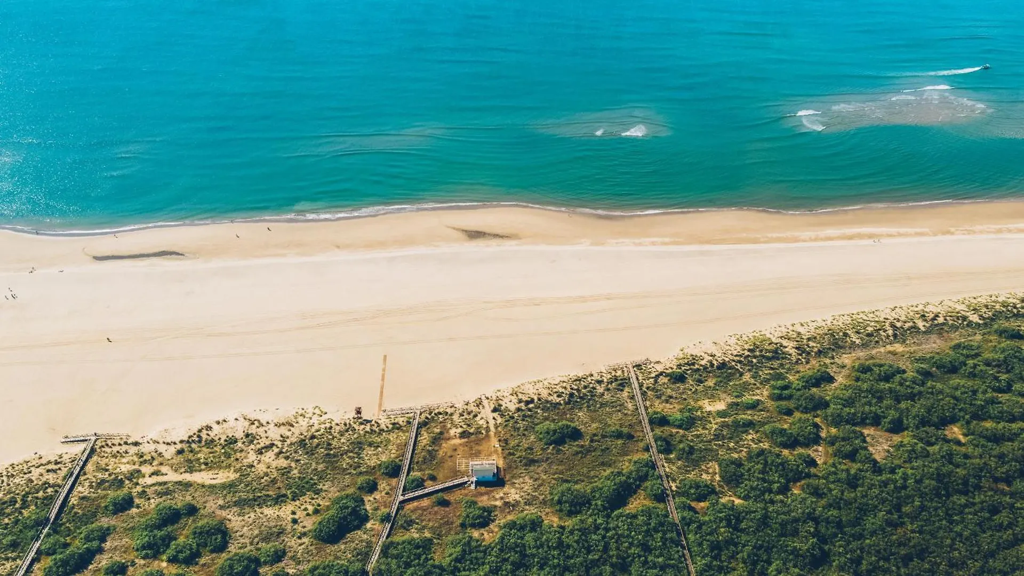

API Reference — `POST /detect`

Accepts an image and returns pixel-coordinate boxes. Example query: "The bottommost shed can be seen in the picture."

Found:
[457,458,497,489]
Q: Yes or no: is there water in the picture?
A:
Yes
